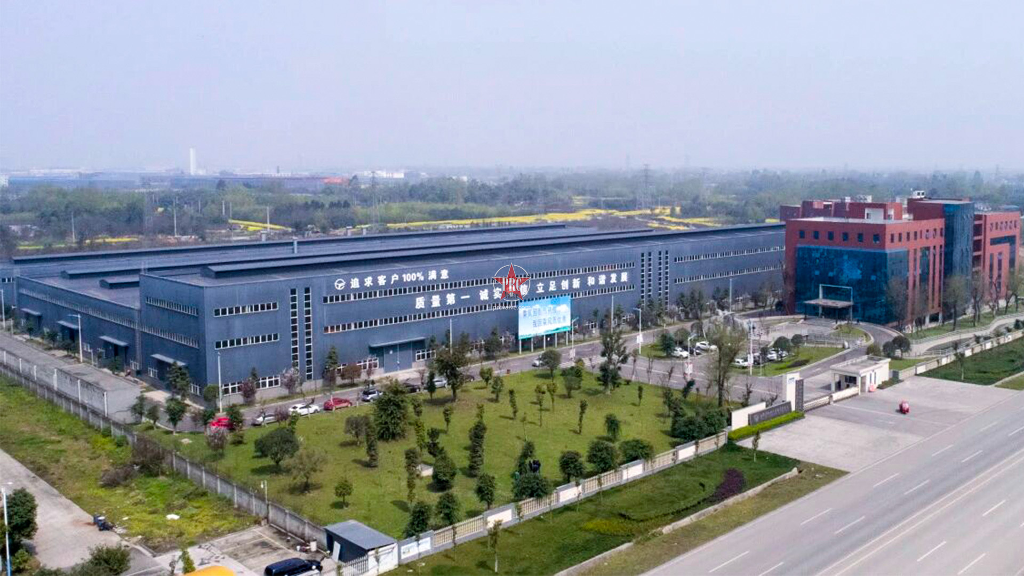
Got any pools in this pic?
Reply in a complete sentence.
No, there's no pool here.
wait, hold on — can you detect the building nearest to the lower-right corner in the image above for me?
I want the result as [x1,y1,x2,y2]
[825,354,906,397]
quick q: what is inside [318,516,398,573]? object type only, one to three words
shed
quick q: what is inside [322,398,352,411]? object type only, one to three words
vehicle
